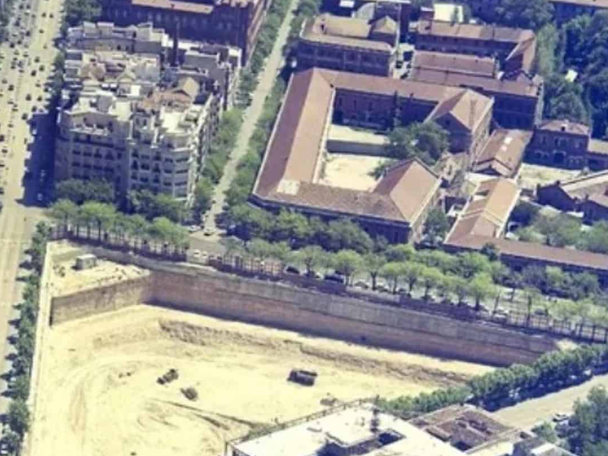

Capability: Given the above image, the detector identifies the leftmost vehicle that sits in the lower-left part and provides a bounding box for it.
[146,362,181,380]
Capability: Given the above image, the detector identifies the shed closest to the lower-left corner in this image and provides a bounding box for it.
[74,252,99,269]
